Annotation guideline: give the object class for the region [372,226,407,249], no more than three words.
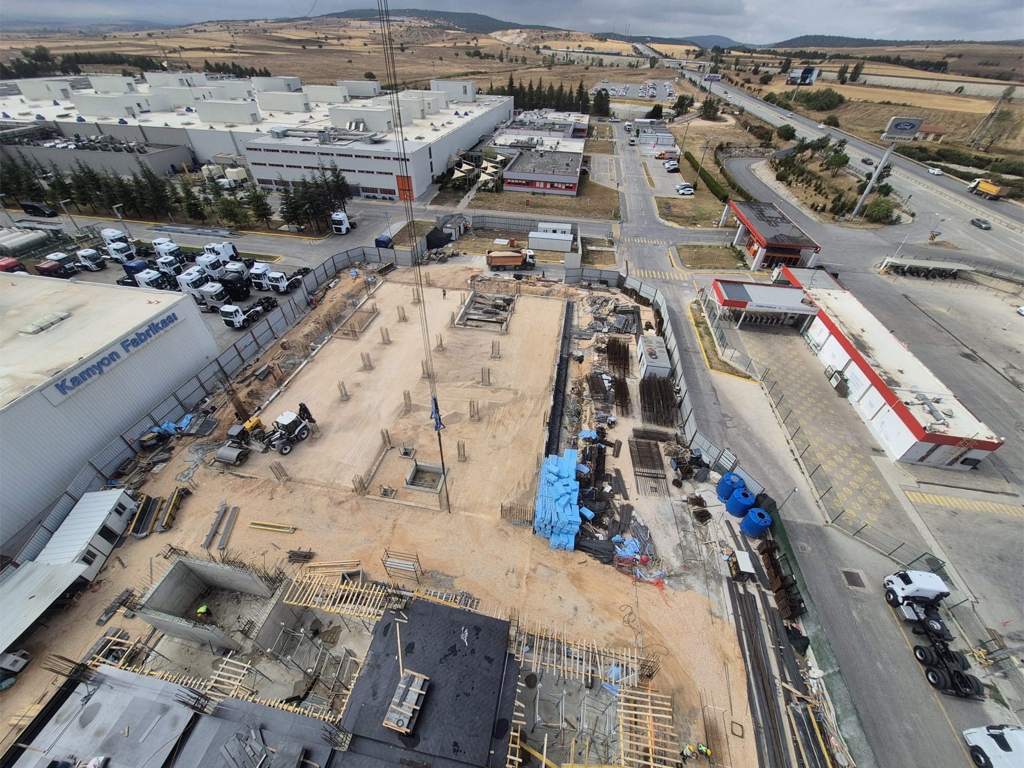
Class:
truck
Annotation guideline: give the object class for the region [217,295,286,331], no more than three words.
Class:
truck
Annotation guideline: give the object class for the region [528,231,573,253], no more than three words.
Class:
building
